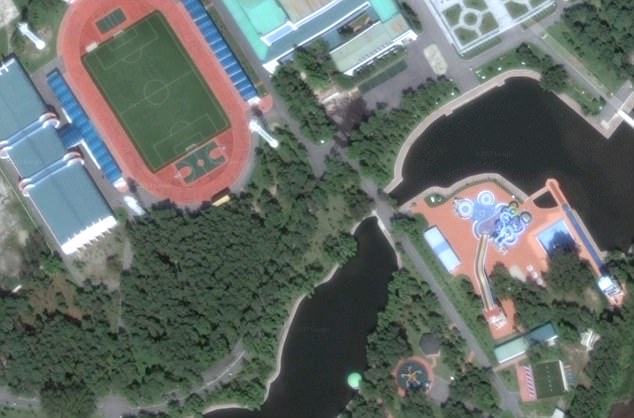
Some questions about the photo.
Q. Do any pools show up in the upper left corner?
No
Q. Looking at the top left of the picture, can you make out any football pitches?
Yes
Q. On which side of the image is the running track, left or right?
left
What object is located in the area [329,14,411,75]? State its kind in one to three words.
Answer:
building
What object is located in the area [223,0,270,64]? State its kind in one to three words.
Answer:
building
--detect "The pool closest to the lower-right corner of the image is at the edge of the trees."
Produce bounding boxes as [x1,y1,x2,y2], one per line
[537,220,575,256]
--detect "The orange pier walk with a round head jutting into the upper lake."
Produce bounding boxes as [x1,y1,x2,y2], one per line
[527,175,570,207]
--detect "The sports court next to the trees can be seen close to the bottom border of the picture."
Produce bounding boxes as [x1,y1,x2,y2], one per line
[534,360,567,399]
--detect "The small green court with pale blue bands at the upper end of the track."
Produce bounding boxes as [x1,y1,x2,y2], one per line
[93,6,129,35]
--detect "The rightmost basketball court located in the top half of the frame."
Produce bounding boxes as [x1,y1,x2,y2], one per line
[175,141,225,183]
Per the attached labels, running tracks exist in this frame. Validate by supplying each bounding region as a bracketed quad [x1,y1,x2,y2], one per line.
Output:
[55,0,256,209]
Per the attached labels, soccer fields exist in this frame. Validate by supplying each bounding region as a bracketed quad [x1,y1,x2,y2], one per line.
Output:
[80,9,231,173]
